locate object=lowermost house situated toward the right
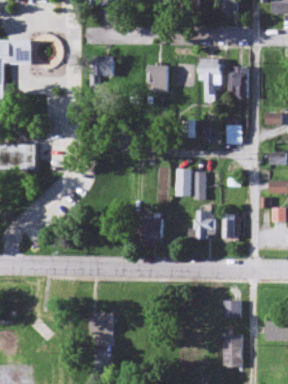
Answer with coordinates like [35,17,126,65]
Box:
[222,335,244,367]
